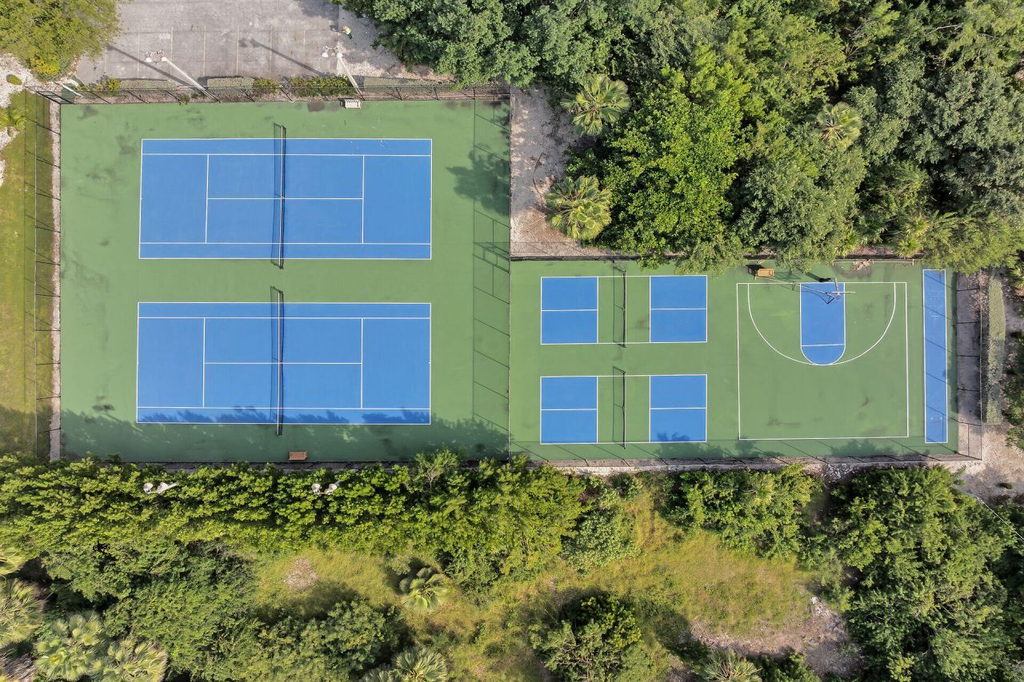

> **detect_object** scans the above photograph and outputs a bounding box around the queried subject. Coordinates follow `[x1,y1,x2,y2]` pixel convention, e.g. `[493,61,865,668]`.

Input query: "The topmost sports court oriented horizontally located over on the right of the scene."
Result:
[541,275,708,345]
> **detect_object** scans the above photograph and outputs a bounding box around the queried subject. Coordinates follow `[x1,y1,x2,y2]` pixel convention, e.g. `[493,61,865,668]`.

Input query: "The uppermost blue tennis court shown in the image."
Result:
[138,138,432,259]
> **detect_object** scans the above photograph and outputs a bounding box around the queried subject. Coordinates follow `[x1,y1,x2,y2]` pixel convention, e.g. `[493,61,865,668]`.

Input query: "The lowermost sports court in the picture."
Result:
[540,374,707,445]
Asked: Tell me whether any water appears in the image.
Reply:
No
